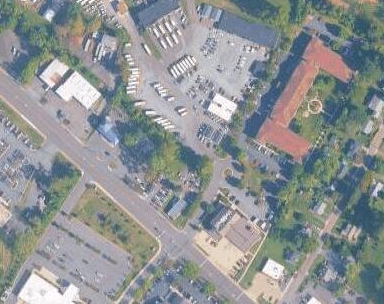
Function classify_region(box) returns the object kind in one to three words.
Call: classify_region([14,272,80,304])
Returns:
building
